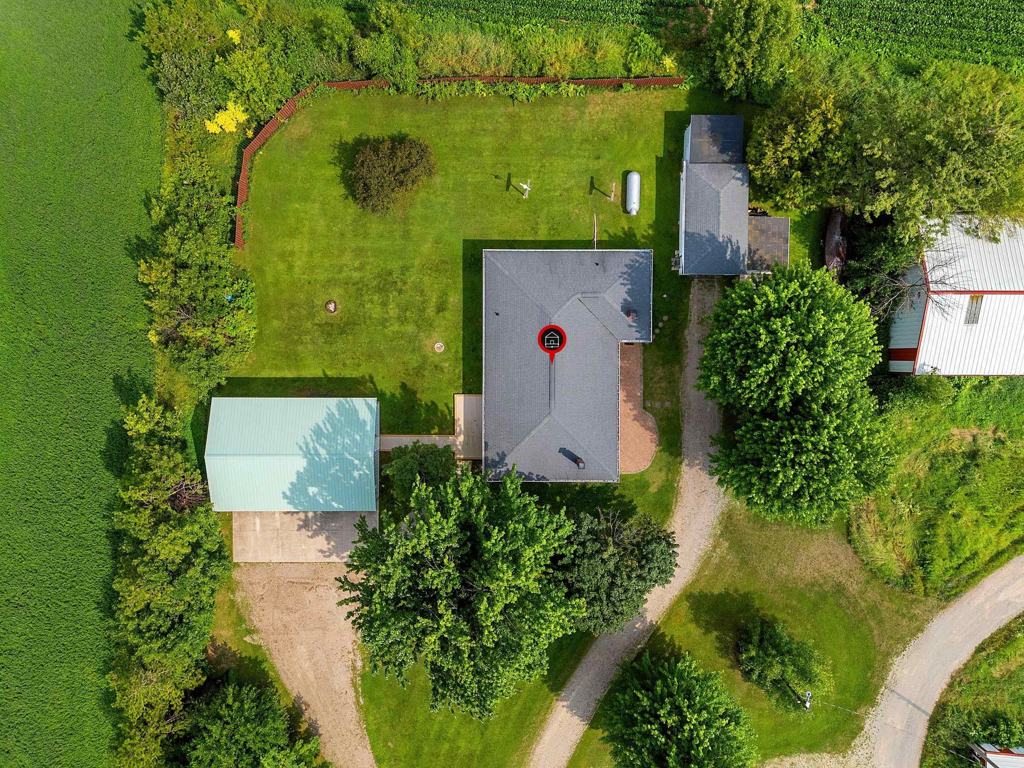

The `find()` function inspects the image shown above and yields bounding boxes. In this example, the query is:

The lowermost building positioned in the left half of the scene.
[204,397,381,511]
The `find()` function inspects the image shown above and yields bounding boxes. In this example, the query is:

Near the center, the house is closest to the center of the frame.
[481,248,655,484]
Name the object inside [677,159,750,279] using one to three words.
shed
